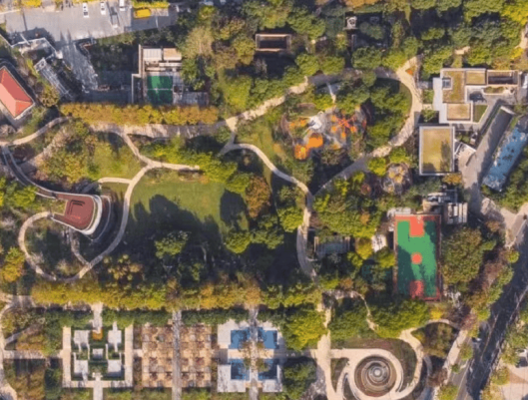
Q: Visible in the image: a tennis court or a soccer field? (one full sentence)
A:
There is a tennis court in the scene.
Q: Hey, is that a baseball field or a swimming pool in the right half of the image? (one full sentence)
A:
What appears in the right half of the image is a swimming pool.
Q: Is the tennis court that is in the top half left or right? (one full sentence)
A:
The tennis court that is in the top half sits on the left side.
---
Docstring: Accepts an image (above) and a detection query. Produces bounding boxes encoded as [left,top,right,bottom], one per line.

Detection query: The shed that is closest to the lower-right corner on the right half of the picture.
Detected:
[445,203,468,224]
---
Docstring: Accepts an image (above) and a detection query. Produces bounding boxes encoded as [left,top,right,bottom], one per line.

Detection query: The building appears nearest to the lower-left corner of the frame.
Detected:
[51,192,110,240]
